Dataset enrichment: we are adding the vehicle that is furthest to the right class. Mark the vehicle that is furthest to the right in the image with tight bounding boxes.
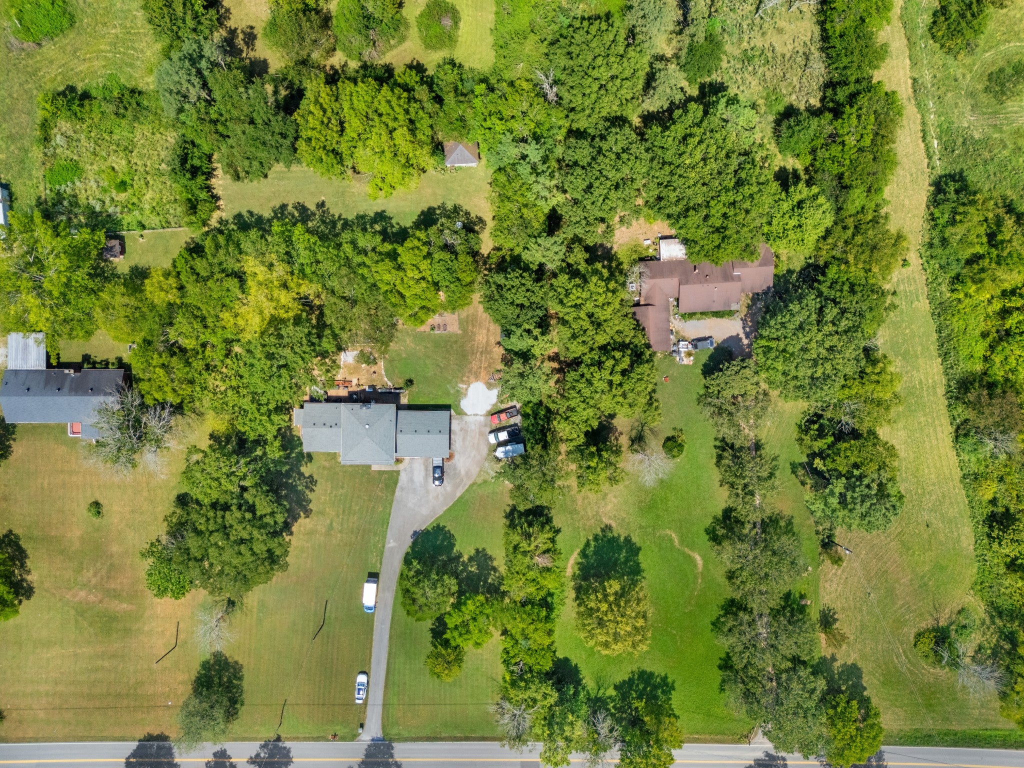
[690,337,716,351]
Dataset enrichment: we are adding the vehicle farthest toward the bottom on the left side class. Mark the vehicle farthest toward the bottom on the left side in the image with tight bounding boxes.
[353,673,366,702]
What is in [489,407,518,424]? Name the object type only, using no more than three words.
vehicle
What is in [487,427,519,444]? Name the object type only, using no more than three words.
vehicle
